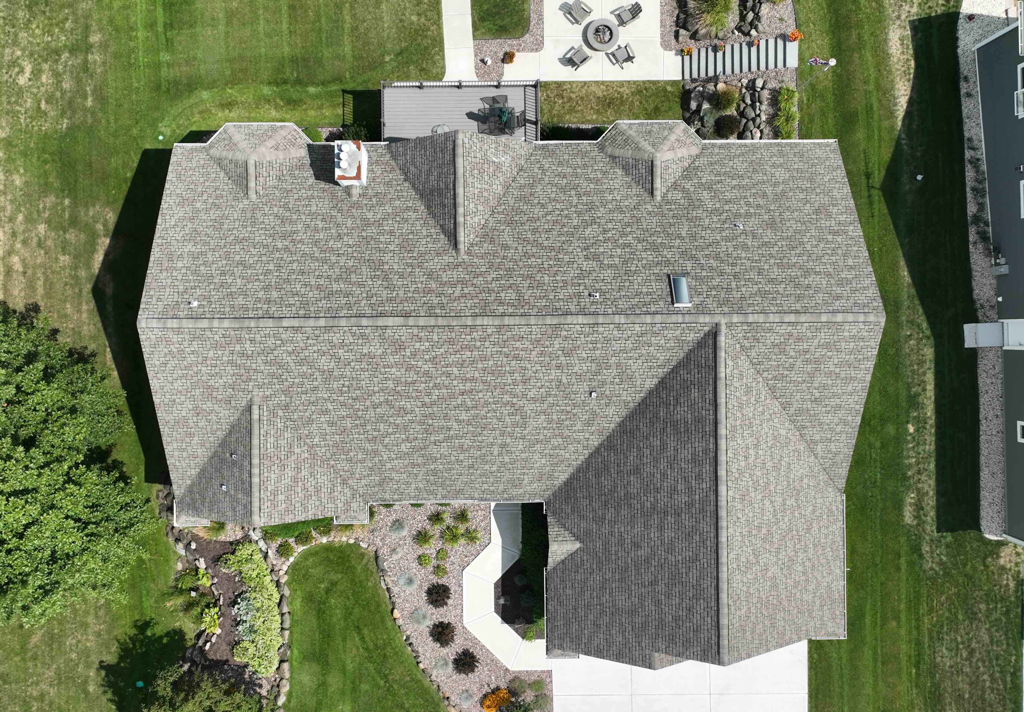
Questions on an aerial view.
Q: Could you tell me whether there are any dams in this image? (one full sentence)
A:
No, no dam can be seen from above.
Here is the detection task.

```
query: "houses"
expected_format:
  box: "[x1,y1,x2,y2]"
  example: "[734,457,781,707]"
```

[975,10,1024,543]
[136,120,886,671]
